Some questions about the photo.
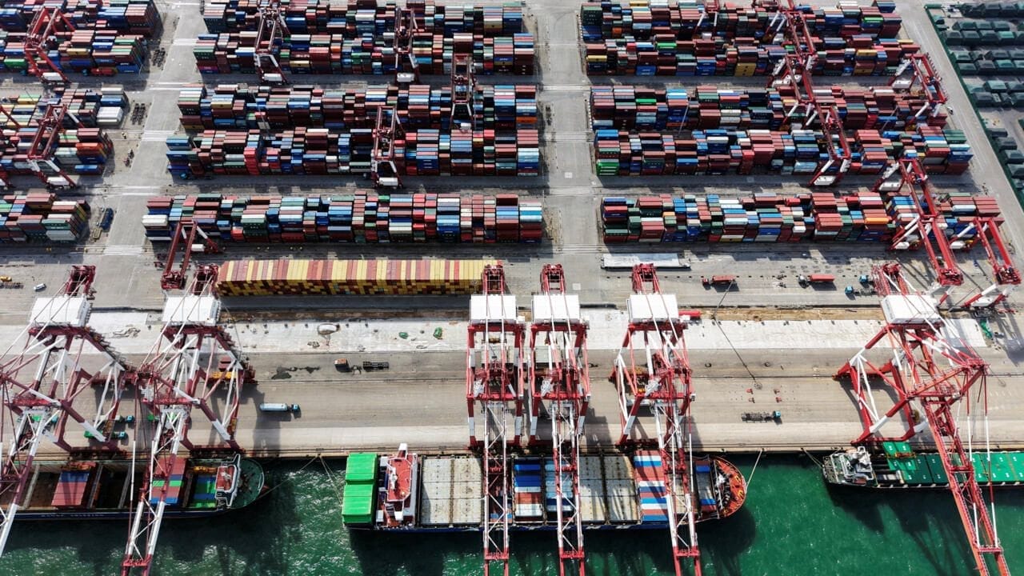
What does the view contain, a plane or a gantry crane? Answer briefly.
gantry crane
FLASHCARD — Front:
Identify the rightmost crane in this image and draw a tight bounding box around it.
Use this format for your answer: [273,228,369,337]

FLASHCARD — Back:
[946,222,1021,308]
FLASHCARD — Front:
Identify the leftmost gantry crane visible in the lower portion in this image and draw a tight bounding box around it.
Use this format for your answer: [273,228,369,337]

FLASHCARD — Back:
[0,264,139,538]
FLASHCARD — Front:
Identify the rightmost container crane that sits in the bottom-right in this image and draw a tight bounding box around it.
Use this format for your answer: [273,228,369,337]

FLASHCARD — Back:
[826,263,1007,576]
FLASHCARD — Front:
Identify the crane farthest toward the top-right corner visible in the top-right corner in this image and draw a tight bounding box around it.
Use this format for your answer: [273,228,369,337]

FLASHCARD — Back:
[885,55,950,131]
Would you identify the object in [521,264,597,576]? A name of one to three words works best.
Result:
container crane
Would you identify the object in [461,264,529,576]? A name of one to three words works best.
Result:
container crane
